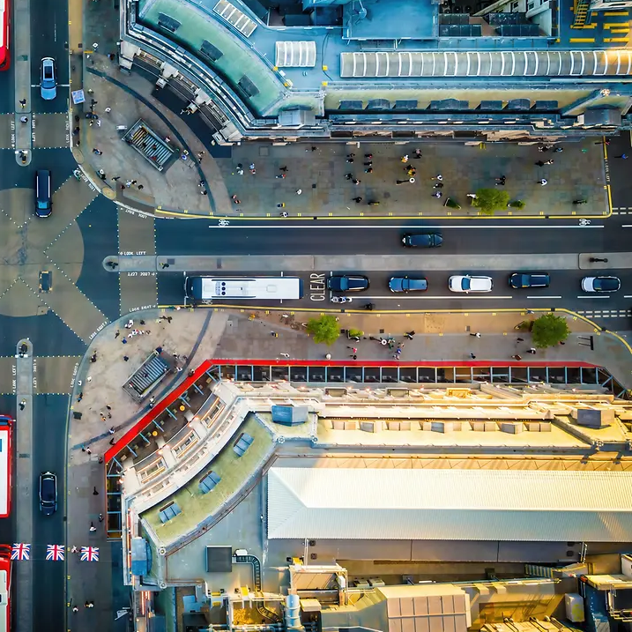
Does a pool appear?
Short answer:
No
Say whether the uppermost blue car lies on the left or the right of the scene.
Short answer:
left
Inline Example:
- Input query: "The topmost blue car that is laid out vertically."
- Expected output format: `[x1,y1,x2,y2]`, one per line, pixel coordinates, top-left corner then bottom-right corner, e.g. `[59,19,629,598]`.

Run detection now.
[38,59,58,102]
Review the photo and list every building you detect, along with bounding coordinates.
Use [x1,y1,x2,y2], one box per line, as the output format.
[106,378,632,632]
[107,0,632,150]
